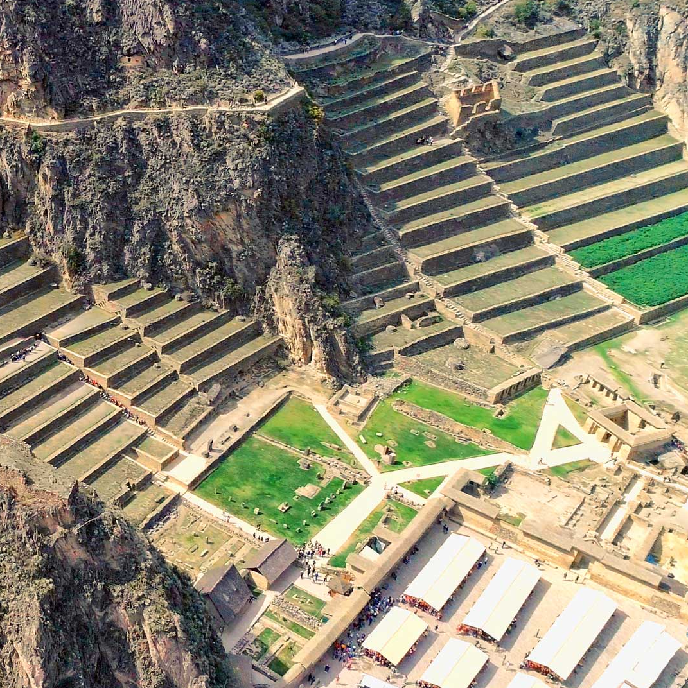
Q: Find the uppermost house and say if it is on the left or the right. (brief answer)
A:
right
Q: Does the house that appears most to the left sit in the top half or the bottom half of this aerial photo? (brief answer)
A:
bottom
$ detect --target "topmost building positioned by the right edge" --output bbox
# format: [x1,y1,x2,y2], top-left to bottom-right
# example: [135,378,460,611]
[582,401,678,464]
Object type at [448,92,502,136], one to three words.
house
